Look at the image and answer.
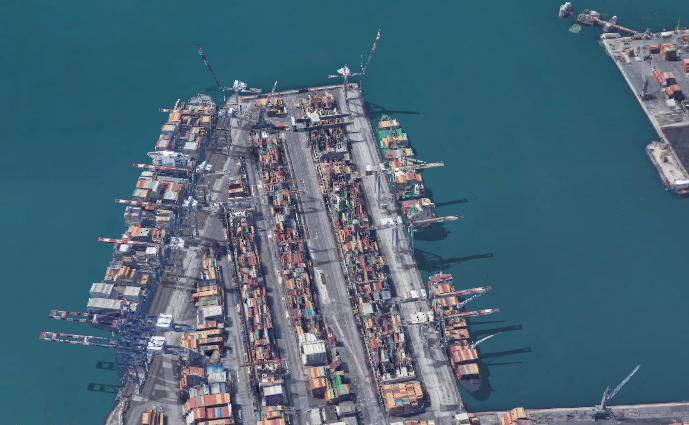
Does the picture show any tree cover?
No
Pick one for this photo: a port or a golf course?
port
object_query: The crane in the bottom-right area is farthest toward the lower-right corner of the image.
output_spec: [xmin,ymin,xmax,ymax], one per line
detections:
[591,358,643,423]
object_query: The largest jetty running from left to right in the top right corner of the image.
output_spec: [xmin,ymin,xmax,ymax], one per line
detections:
[579,15,638,34]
